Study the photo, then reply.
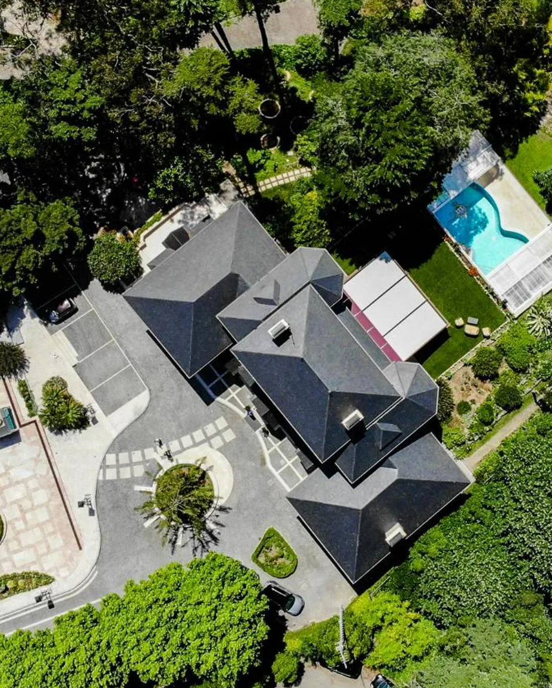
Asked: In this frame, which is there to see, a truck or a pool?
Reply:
pool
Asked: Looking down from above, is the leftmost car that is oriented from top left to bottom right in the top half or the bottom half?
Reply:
bottom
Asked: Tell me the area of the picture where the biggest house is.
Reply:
center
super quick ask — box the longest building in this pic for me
[124,201,471,583]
